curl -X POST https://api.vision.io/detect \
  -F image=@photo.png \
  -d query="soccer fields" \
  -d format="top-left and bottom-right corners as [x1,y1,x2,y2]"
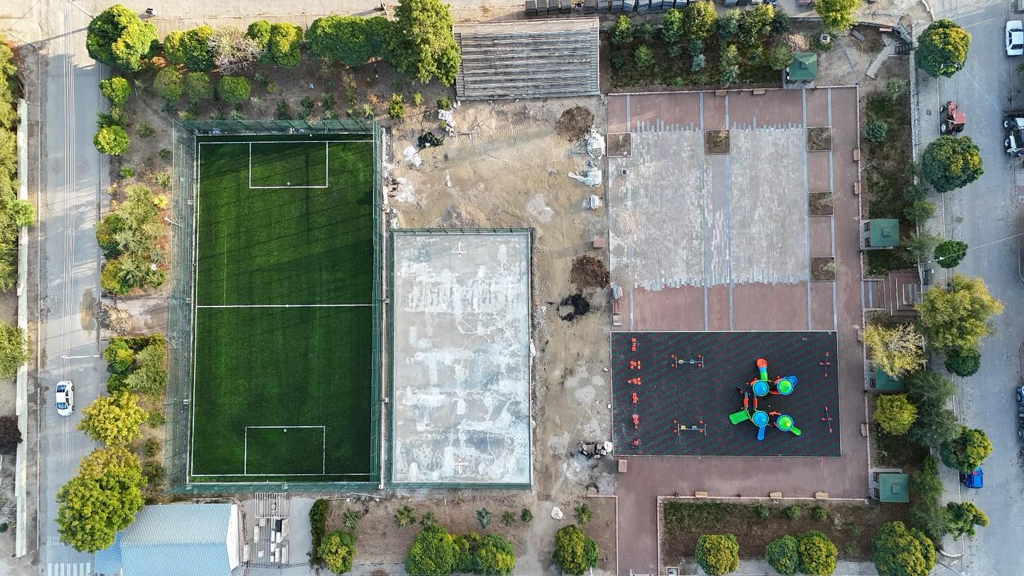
[188,132,381,485]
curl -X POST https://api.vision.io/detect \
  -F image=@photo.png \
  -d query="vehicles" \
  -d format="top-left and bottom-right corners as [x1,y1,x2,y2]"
[1003,22,1024,57]
[961,470,982,491]
[54,380,77,415]
[937,101,966,135]
[1002,117,1024,156]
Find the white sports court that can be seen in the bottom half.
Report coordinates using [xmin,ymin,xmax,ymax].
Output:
[391,232,532,485]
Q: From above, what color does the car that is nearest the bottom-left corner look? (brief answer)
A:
white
